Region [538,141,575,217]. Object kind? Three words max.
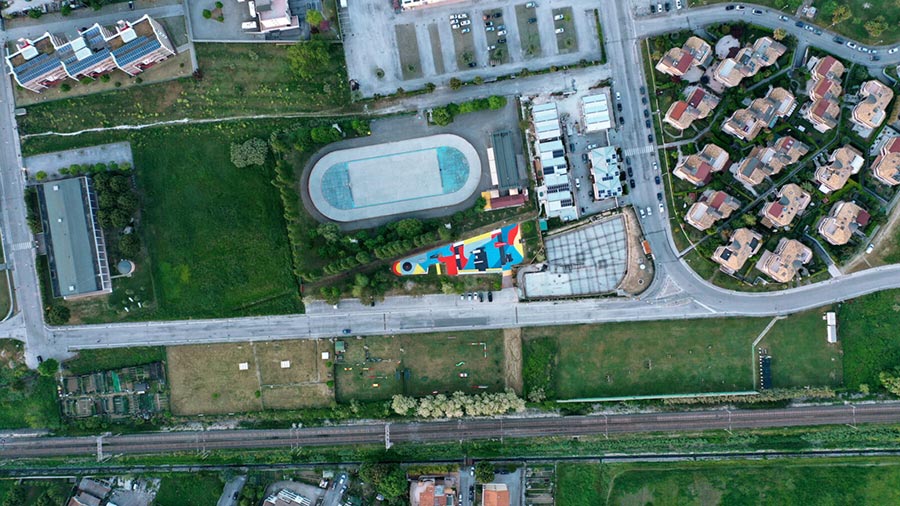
building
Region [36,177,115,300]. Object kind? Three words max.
building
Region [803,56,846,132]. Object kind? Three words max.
house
